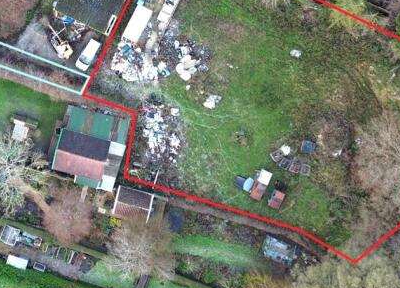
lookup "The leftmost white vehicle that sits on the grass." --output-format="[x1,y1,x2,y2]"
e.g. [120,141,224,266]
[118,0,154,46]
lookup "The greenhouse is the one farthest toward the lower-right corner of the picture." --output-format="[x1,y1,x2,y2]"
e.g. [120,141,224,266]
[258,229,299,267]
